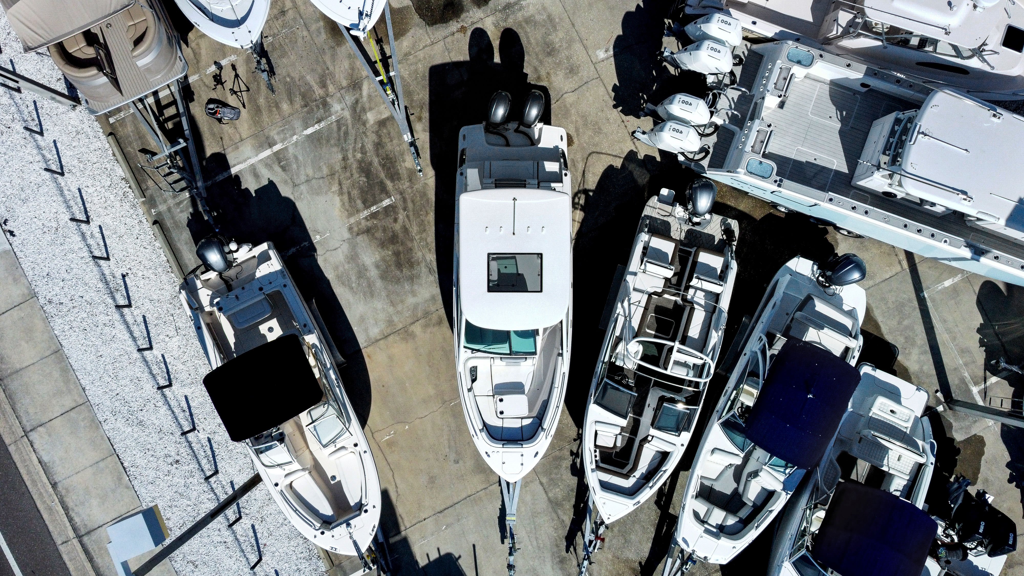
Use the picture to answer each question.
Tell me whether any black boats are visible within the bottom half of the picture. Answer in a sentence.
Yes, a black boat shows up within the bottom half of the picture.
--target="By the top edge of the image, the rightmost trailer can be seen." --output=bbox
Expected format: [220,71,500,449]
[338,0,426,177]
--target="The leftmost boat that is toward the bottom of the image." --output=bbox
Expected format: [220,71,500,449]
[180,228,384,572]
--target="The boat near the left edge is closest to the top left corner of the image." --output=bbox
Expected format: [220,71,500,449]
[5,0,191,118]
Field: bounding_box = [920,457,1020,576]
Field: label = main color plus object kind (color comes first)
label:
black boat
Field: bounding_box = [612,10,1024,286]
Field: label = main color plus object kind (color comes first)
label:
white boat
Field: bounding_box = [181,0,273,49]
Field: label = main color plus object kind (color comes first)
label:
white boat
